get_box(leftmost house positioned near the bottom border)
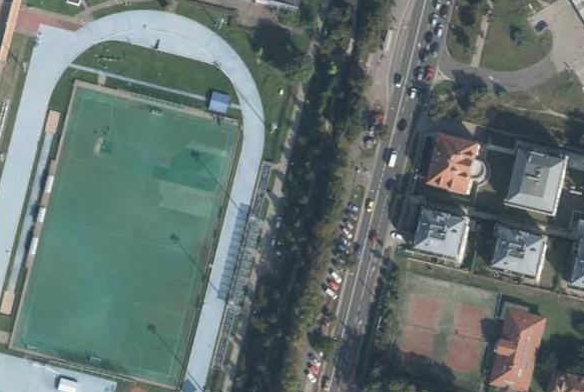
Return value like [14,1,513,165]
[489,302,546,392]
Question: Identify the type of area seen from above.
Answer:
sports ground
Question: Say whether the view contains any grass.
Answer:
Yes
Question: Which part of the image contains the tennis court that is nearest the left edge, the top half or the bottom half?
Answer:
bottom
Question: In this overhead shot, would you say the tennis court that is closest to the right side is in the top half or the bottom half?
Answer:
bottom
